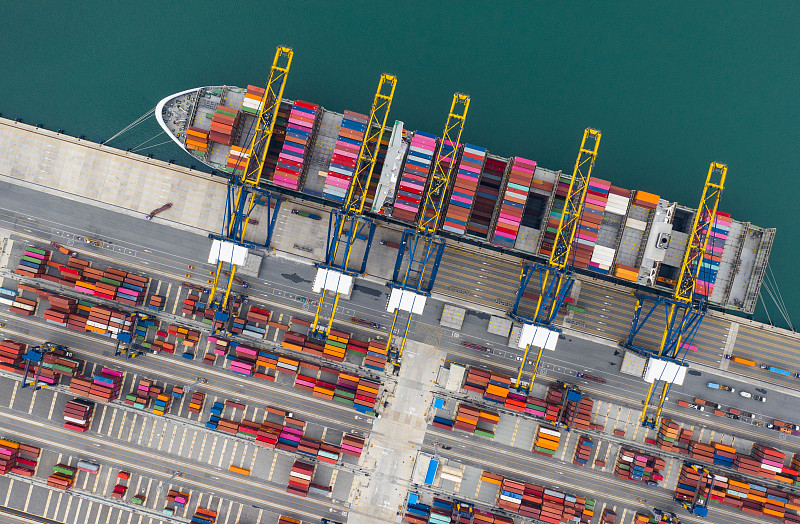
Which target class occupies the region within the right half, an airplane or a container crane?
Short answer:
container crane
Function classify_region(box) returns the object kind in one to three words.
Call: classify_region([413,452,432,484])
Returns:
shed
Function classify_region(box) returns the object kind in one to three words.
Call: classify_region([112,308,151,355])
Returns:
crane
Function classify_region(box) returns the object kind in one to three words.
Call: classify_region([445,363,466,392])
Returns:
shed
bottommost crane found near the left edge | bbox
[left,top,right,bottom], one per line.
[18,340,59,387]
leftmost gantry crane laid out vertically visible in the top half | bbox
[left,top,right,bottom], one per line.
[204,41,297,316]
